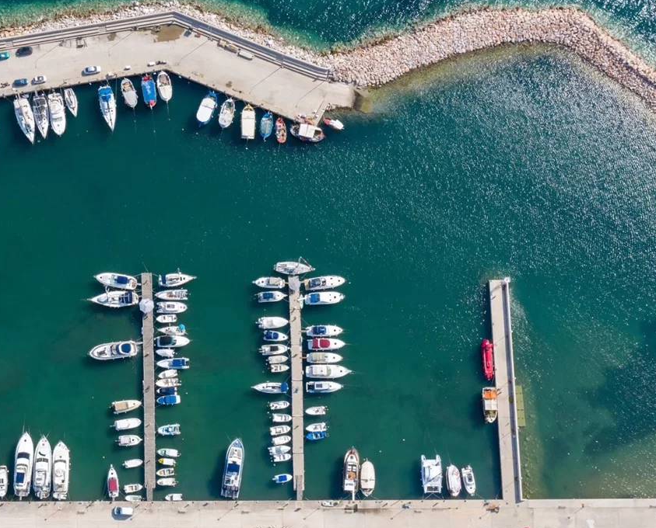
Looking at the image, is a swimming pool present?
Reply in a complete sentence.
No, I can't see a single swimming pool in this photo.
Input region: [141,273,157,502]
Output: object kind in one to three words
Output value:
pier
